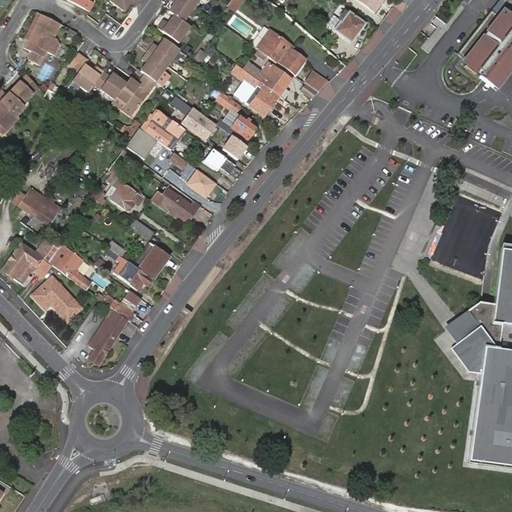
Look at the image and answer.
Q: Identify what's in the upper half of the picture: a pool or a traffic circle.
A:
pool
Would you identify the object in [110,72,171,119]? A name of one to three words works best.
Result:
house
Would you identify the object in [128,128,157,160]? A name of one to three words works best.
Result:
building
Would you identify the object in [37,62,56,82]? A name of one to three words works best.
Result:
swimming pool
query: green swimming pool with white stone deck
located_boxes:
[228,14,254,38]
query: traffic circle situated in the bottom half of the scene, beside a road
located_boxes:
[66,382,142,459]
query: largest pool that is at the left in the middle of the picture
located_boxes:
[90,273,110,291]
